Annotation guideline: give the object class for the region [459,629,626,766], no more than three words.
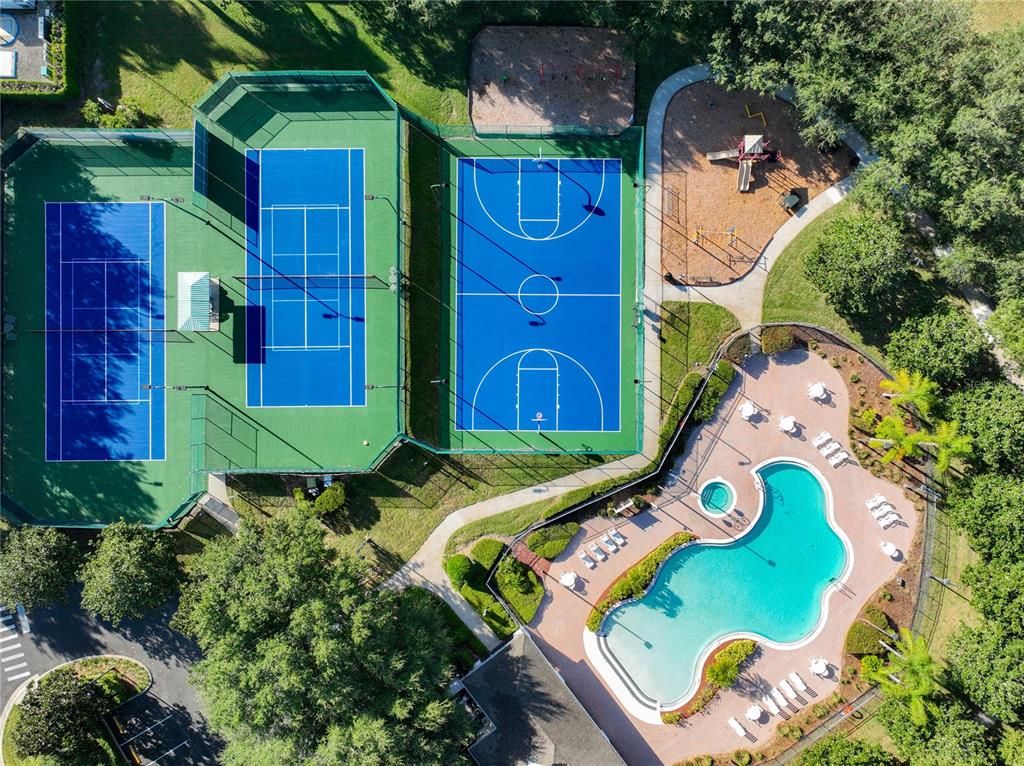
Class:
building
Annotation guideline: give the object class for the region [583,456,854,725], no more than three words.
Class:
swimming pool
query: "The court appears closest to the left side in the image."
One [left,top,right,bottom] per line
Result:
[5,139,209,523]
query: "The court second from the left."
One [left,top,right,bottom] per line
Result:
[209,84,405,470]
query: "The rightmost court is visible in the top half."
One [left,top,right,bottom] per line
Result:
[440,139,635,450]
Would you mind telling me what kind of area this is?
sports ground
